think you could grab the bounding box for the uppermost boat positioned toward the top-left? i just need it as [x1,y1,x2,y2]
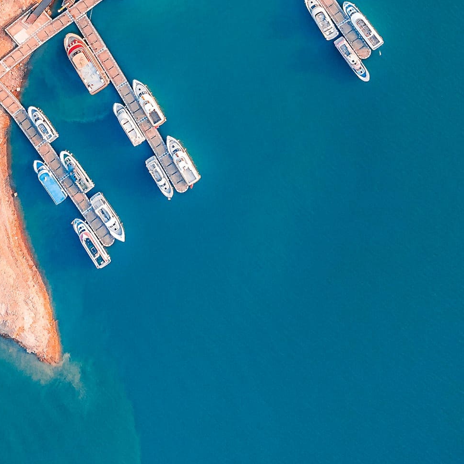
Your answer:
[67,35,108,95]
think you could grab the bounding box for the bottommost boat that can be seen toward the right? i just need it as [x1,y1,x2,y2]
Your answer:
[335,38,368,83]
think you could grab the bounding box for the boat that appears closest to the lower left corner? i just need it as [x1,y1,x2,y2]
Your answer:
[74,221,109,270]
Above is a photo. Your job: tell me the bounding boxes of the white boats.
[133,82,164,127]
[168,138,199,185]
[114,104,144,146]
[345,2,384,50]
[74,221,109,270]
[146,158,171,200]
[61,153,95,193]
[90,193,123,243]
[67,35,108,95]
[29,108,58,143]
[306,0,338,41]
